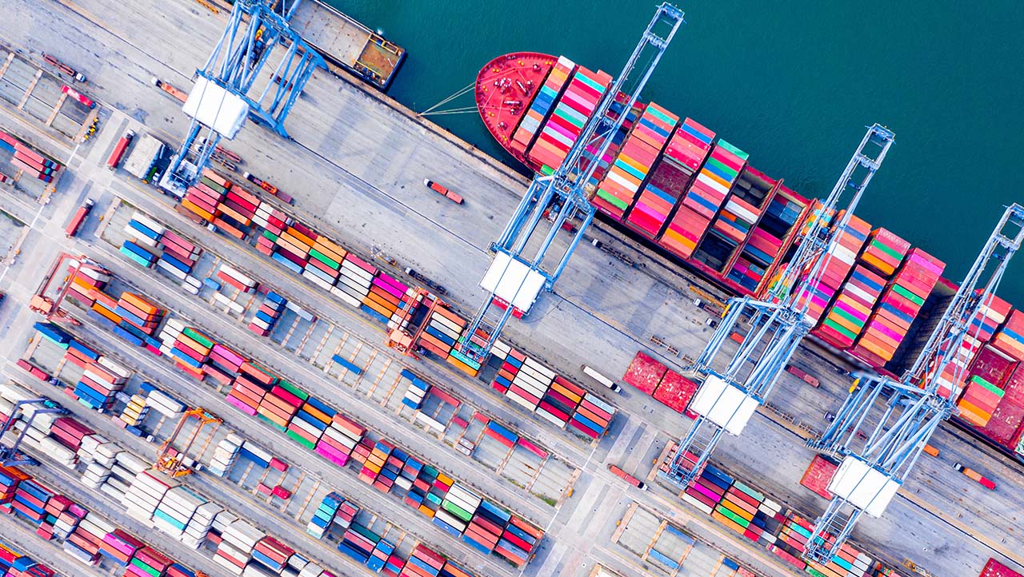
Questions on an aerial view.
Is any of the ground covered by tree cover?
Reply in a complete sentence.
No, there is no tree cover in the image.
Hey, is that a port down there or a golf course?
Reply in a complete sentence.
The picture captures a port.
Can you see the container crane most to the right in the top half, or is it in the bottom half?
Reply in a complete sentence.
The container crane most to the right is in the bottom half of the image.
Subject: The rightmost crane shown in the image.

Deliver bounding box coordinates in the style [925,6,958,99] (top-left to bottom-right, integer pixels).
[799,198,1024,577]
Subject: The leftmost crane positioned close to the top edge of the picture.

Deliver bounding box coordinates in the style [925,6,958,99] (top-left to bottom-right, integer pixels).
[157,0,334,199]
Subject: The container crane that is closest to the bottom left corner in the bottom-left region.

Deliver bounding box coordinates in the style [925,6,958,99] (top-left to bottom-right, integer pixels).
[0,390,71,464]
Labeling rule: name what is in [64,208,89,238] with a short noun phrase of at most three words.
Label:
shipping container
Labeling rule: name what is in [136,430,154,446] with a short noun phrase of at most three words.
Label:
vehicle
